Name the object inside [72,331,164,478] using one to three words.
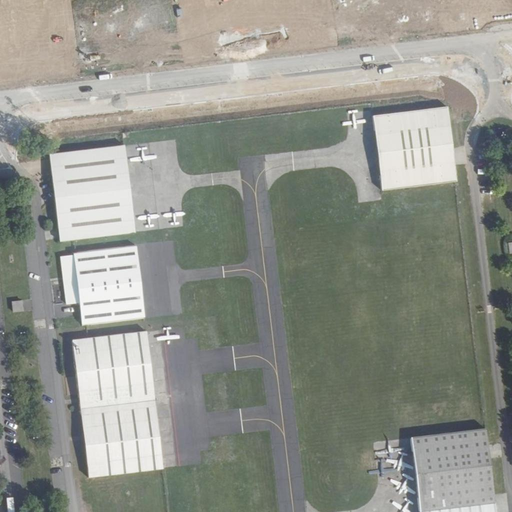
hangar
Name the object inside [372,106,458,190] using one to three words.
hangar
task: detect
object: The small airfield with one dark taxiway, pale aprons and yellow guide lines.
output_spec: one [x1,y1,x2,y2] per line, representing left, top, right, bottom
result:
[126,108,420,512]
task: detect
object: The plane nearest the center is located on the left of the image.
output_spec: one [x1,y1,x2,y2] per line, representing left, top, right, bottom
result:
[162,208,186,224]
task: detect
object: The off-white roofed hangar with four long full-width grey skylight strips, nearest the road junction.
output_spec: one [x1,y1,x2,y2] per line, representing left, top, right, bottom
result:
[50,145,136,242]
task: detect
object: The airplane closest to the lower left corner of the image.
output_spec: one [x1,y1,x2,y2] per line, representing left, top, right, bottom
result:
[156,326,180,344]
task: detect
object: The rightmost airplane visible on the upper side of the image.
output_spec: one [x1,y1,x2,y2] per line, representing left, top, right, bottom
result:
[342,110,366,129]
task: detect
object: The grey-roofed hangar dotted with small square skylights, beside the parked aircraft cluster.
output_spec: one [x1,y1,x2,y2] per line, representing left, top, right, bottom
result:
[411,428,496,512]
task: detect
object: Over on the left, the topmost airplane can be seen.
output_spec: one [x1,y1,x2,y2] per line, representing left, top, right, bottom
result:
[130,146,157,164]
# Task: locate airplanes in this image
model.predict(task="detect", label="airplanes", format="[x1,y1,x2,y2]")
[156,326,180,344]
[369,457,396,476]
[390,498,414,512]
[137,210,160,226]
[386,452,414,472]
[130,146,157,164]
[162,208,186,224]
[390,474,416,494]
[342,110,366,129]
[376,433,404,458]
